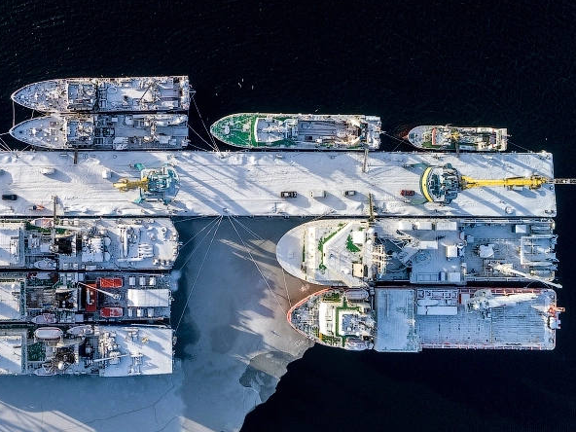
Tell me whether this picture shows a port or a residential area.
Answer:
port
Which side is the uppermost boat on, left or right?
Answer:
left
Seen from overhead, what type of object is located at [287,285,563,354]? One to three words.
ship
